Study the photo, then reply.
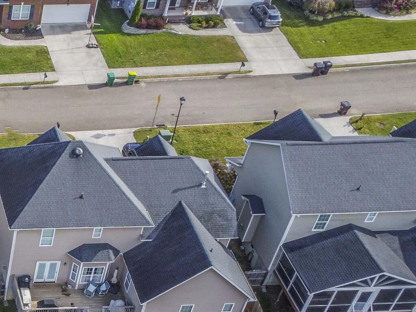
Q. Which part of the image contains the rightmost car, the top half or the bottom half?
top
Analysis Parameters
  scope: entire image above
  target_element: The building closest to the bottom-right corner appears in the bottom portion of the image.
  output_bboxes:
[217,104,416,312]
